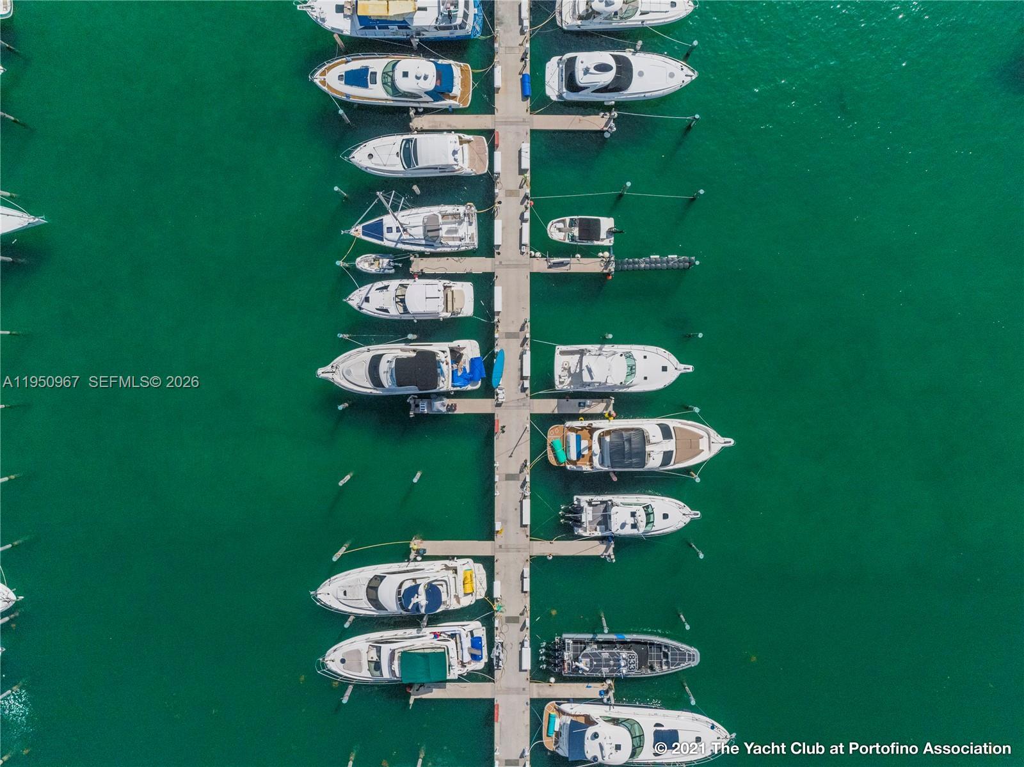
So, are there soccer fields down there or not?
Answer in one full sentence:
No, no soccer field can be seen from above.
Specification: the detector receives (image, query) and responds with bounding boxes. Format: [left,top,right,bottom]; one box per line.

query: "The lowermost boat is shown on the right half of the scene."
[529,698,736,767]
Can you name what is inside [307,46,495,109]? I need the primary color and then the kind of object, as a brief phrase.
white boat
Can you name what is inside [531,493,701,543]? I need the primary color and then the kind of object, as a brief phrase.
white boat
